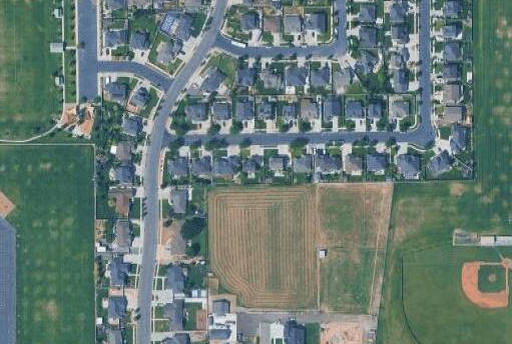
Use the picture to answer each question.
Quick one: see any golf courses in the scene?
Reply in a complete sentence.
No, no golf course can be seen from above.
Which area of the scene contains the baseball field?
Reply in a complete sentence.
You can find the baseball field in the bottom right area of the picture.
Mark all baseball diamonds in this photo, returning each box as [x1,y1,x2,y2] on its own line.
[402,246,512,344]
